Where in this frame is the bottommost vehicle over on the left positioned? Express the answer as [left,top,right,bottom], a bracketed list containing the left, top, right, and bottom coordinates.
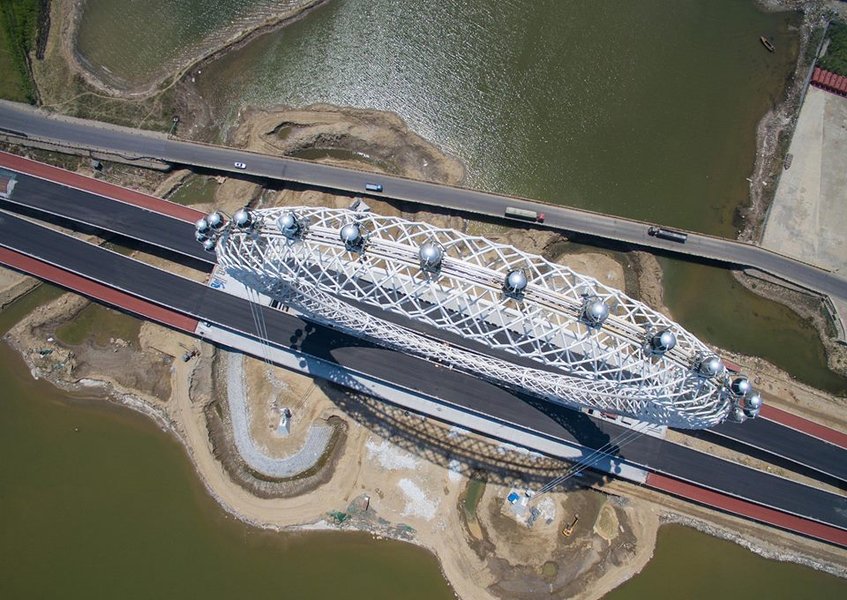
[179,343,200,361]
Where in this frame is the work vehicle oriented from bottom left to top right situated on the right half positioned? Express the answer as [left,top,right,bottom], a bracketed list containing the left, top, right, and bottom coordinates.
[562,515,578,538]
